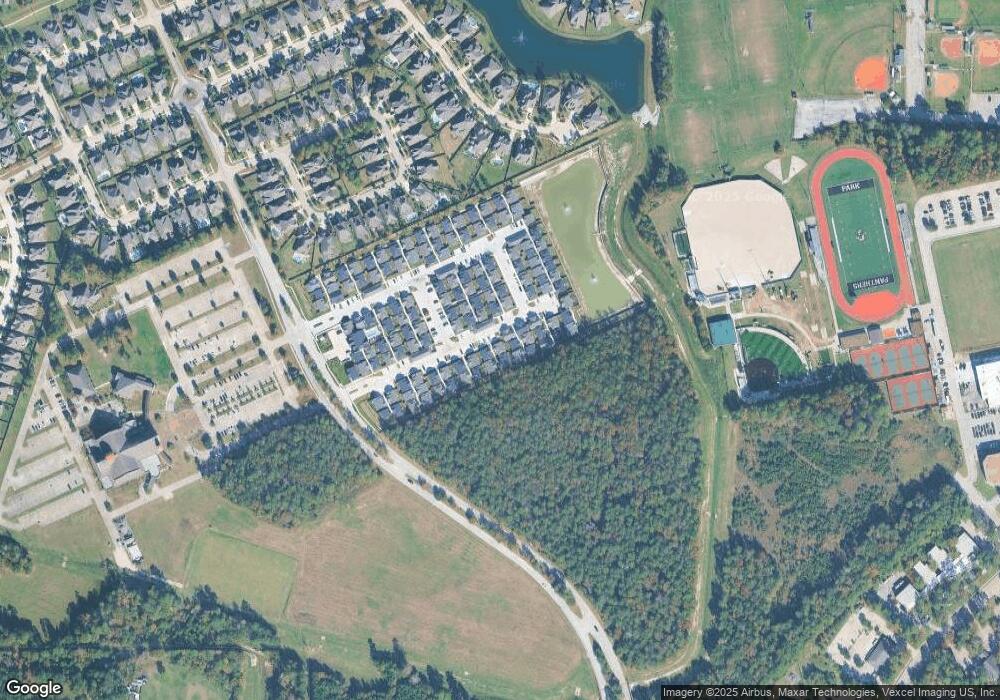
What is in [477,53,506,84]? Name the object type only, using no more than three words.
house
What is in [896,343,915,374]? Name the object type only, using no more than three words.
tennis court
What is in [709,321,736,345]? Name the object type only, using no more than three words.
building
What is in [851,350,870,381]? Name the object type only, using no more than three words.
tennis court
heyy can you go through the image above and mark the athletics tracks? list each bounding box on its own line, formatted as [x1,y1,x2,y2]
[812,148,908,322]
